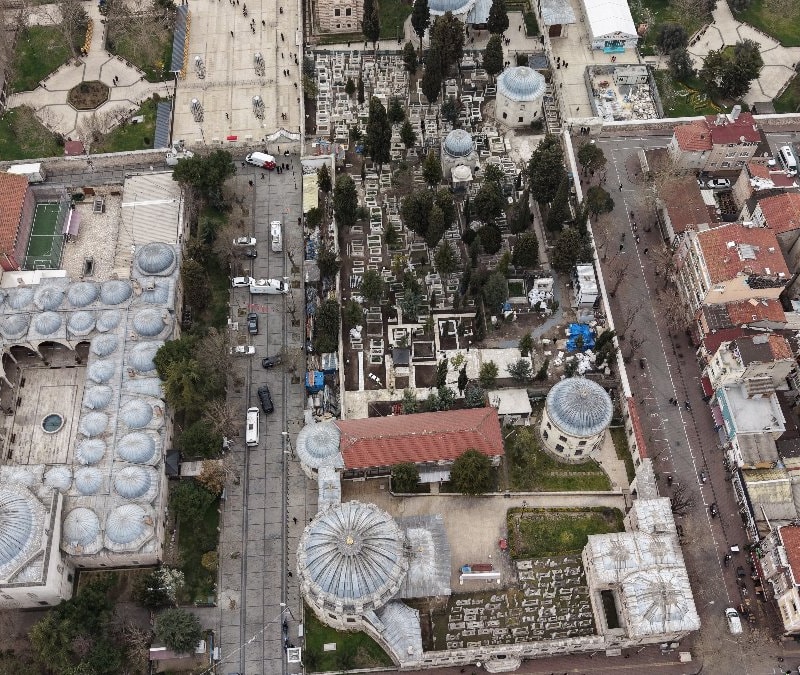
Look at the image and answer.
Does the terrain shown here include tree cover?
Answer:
Yes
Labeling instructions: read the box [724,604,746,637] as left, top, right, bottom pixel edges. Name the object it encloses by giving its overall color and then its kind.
white car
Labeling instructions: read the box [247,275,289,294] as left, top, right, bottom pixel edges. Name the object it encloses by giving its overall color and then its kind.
white vehicle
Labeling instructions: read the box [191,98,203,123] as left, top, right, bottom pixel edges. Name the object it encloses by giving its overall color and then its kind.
gray umbrella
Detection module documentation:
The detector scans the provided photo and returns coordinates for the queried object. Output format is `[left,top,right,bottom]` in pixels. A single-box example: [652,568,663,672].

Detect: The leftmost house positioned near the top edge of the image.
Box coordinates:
[310,0,373,35]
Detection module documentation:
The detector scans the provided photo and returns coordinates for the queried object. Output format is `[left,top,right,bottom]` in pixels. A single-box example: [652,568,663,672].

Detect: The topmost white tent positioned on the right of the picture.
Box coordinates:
[580,0,638,55]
